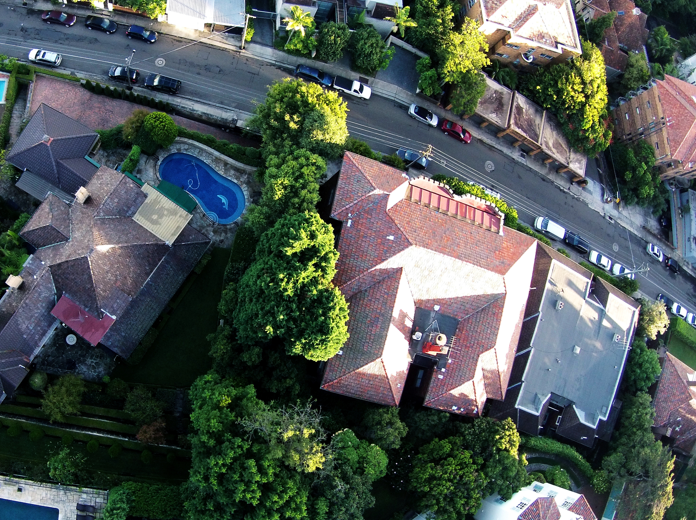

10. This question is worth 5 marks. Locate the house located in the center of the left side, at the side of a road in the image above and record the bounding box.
[0,102,212,405]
